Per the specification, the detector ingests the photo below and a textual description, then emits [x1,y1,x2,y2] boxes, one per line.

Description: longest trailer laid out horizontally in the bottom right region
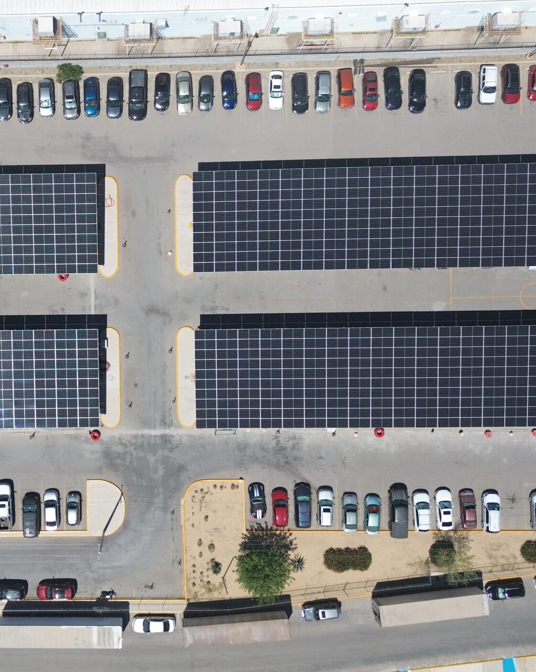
[368,585,488,628]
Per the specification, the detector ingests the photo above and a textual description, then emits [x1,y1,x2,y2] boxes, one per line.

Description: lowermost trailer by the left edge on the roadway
[0,613,123,649]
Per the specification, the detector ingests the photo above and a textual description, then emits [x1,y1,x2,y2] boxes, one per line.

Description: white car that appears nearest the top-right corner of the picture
[476,63,499,105]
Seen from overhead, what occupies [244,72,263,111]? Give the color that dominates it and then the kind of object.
red car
